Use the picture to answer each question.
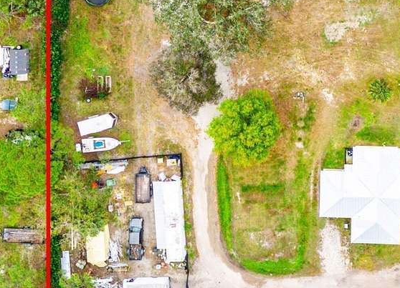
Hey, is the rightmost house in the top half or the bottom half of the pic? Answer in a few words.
bottom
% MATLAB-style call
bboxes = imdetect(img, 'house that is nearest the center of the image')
[153,178,186,263]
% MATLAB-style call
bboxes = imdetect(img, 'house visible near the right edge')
[320,146,400,245]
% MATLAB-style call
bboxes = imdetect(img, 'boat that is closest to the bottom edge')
[73,136,128,154]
